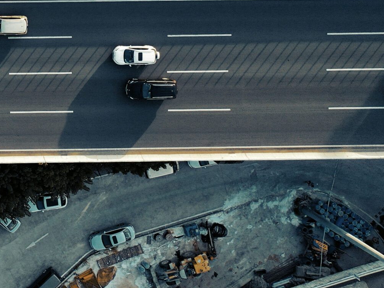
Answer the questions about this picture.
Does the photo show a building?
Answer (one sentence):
No, there is no building in the image.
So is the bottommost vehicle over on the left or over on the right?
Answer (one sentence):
You can find the bottommost vehicle on the left side of the picture.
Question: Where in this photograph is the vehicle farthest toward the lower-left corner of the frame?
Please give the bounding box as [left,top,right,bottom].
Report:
[19,263,61,288]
